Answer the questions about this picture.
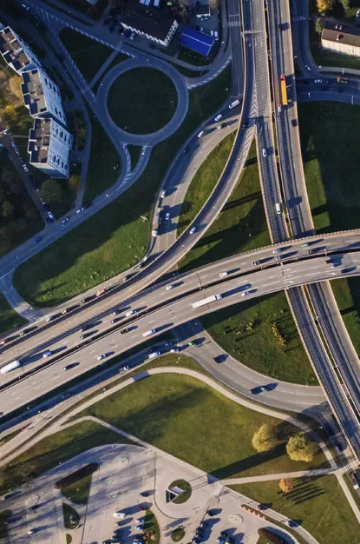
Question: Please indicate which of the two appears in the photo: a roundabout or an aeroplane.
roundabout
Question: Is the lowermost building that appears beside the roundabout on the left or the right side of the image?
left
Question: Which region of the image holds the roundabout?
top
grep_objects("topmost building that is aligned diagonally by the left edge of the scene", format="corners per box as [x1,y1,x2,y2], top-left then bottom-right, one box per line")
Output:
[0,29,53,77]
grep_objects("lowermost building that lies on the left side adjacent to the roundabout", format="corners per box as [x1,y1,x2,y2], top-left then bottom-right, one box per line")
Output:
[27,118,71,171]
